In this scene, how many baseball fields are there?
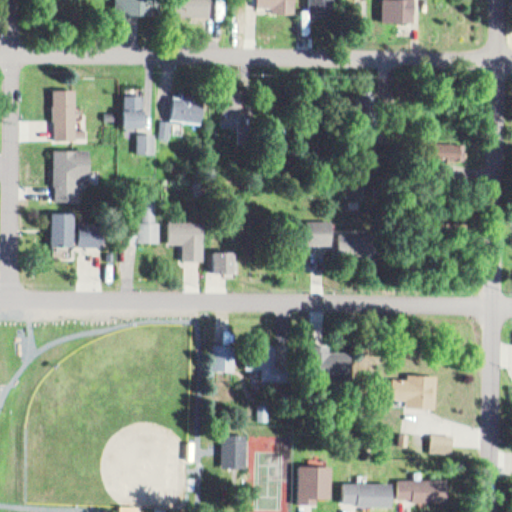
1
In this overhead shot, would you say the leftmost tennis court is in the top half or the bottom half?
bottom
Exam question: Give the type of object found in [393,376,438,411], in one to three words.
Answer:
house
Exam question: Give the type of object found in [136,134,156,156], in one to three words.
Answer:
building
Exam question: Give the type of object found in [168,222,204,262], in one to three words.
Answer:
house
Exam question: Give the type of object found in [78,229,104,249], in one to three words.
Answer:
building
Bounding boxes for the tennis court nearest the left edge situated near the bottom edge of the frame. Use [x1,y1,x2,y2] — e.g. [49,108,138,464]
[248,436,288,512]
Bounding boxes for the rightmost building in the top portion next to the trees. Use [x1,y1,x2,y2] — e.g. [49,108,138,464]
[437,144,462,162]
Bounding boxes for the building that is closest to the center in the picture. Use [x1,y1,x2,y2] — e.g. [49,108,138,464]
[212,253,236,276]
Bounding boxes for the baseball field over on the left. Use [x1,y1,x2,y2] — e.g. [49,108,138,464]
[100,422,187,505]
